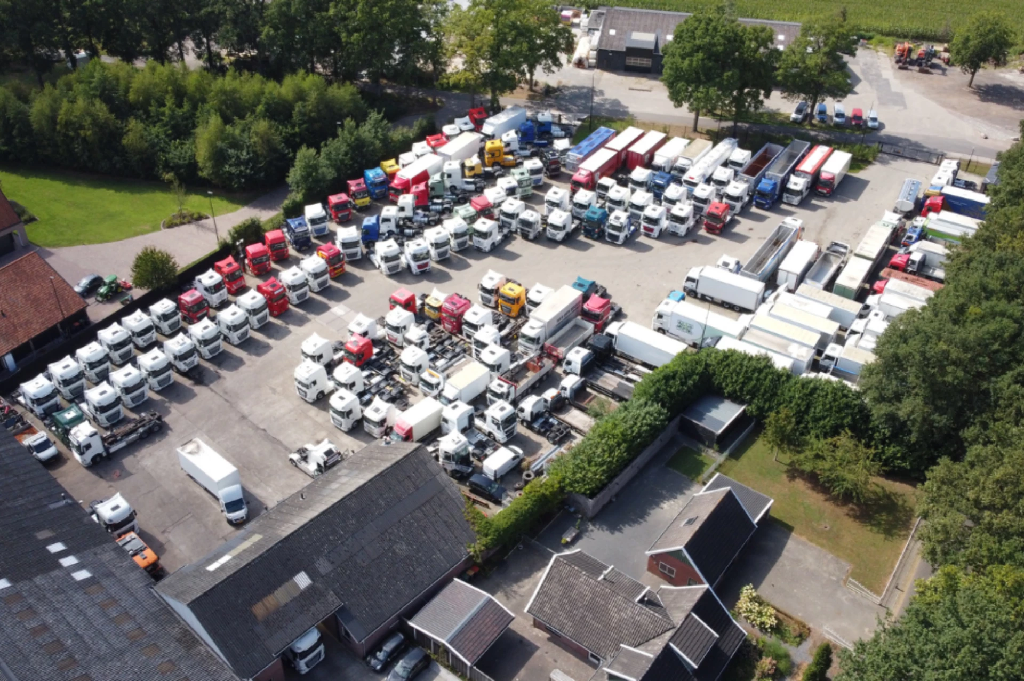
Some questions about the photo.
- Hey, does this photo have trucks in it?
Yes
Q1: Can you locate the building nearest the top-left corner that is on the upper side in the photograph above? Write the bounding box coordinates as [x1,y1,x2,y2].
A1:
[0,190,28,248]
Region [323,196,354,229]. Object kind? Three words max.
truck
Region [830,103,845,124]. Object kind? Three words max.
vehicle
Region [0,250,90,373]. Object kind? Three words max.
barn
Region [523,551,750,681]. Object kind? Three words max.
house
